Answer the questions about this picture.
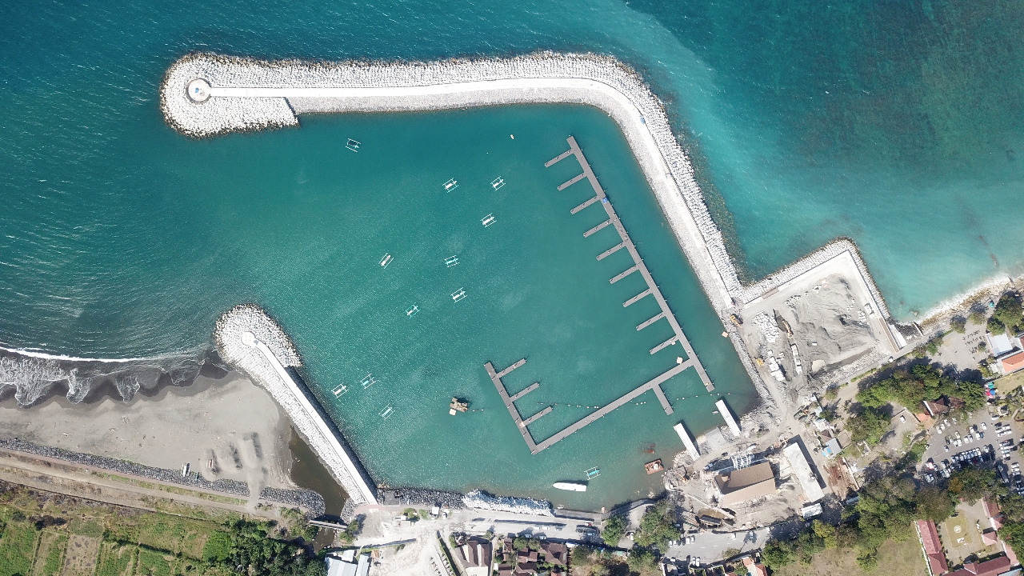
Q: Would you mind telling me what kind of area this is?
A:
port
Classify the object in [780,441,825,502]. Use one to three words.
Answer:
building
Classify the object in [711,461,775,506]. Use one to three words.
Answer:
building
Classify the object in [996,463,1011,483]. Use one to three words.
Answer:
vehicle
